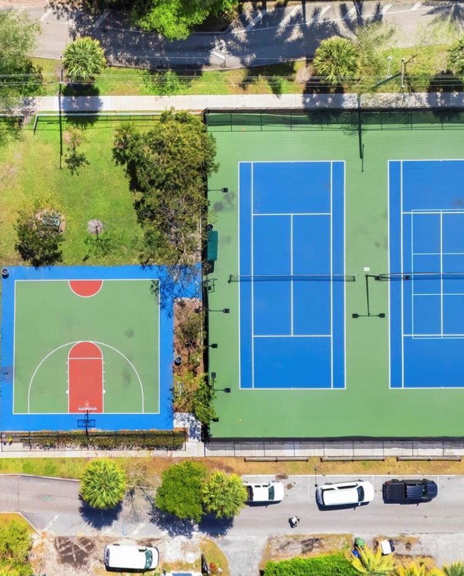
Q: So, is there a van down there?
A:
Yes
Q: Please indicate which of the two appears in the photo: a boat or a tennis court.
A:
tennis court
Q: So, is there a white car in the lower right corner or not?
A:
Yes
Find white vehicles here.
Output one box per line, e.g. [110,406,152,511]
[229,479,285,506]
[315,481,371,506]
[103,542,158,570]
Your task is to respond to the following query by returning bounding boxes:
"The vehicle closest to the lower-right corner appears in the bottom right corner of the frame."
[378,478,436,504]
